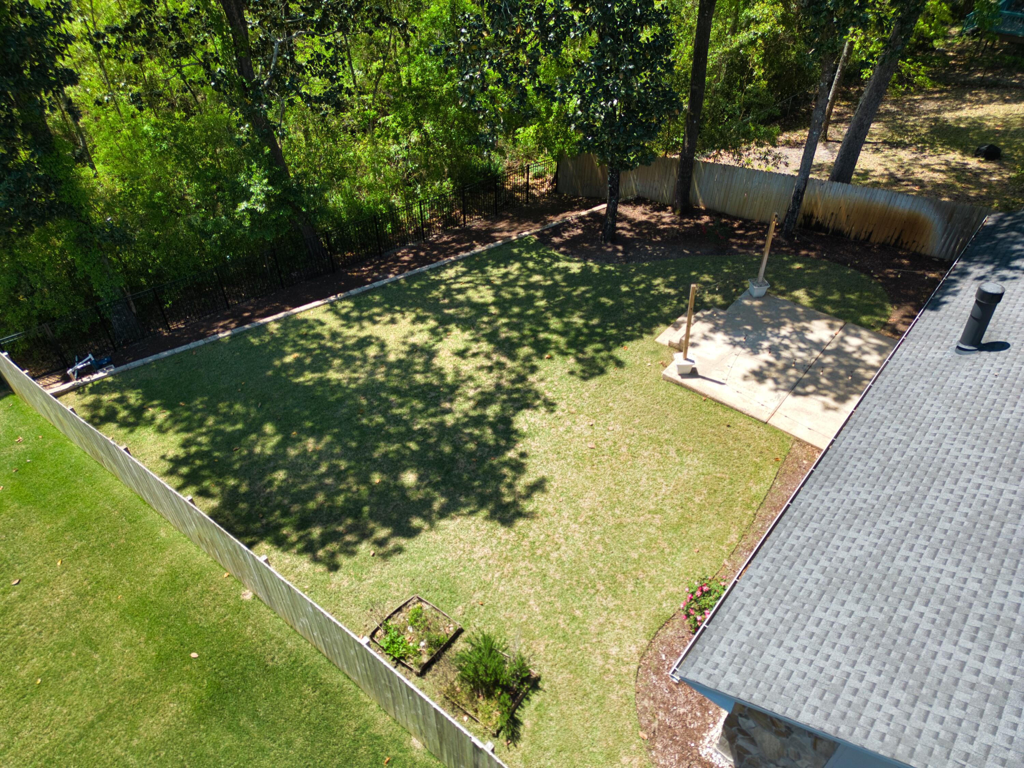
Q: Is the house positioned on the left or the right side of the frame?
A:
right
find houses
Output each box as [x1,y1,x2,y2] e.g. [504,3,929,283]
[666,213,1024,768]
